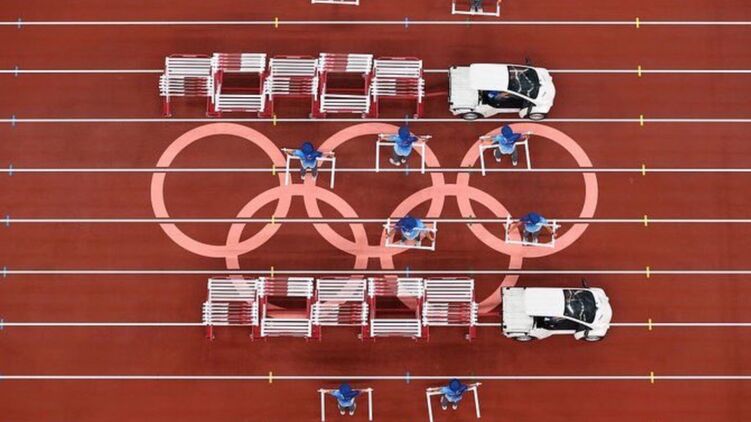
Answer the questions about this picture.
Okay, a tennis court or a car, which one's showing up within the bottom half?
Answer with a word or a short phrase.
car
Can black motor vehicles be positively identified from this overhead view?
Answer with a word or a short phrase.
No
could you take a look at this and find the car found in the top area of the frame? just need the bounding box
[448,56,555,119]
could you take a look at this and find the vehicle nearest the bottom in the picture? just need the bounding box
[502,278,612,341]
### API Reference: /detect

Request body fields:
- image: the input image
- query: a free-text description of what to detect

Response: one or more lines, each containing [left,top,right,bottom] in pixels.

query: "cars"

[502,278,612,341]
[448,56,555,119]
